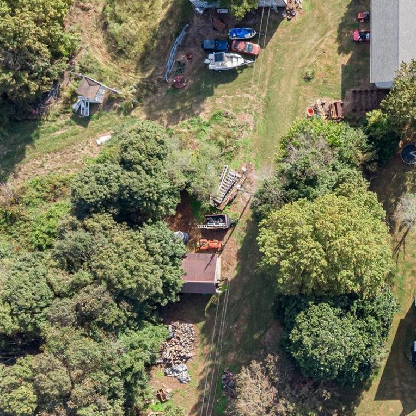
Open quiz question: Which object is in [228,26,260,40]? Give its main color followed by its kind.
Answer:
blue boat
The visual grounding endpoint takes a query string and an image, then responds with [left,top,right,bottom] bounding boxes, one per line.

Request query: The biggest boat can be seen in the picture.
[205,51,262,72]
